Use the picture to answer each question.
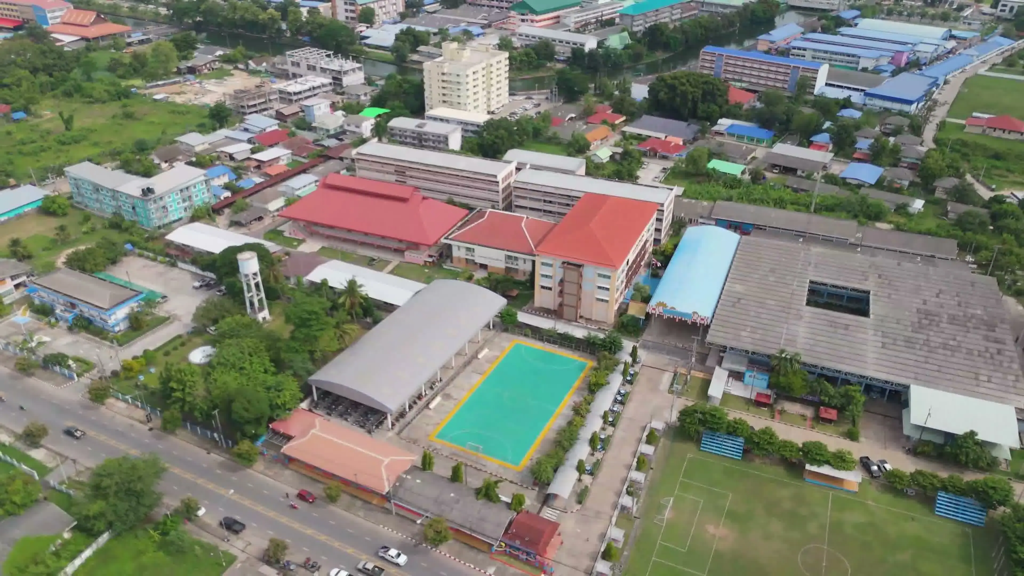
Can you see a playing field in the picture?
Yes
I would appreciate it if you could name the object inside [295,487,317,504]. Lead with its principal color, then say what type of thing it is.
red car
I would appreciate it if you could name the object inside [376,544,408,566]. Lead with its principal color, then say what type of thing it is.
white truck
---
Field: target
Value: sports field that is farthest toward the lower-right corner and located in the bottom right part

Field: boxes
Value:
[615,427,1024,576]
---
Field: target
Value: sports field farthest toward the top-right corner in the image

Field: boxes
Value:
[948,74,1024,119]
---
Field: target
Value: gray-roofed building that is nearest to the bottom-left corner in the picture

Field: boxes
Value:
[0,491,78,568]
